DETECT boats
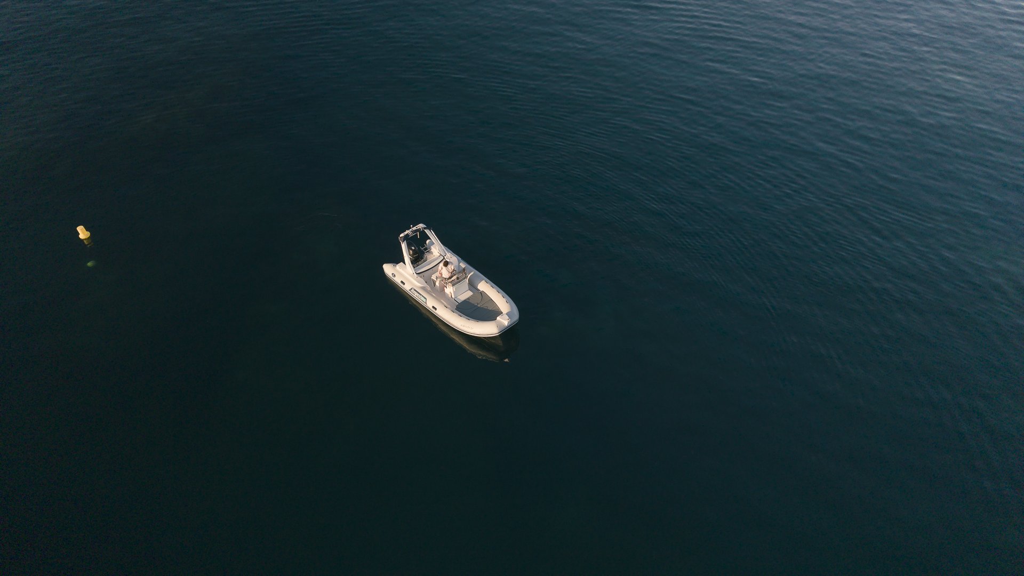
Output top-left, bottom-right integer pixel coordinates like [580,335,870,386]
[382,223,519,336]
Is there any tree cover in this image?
No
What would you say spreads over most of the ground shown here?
water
